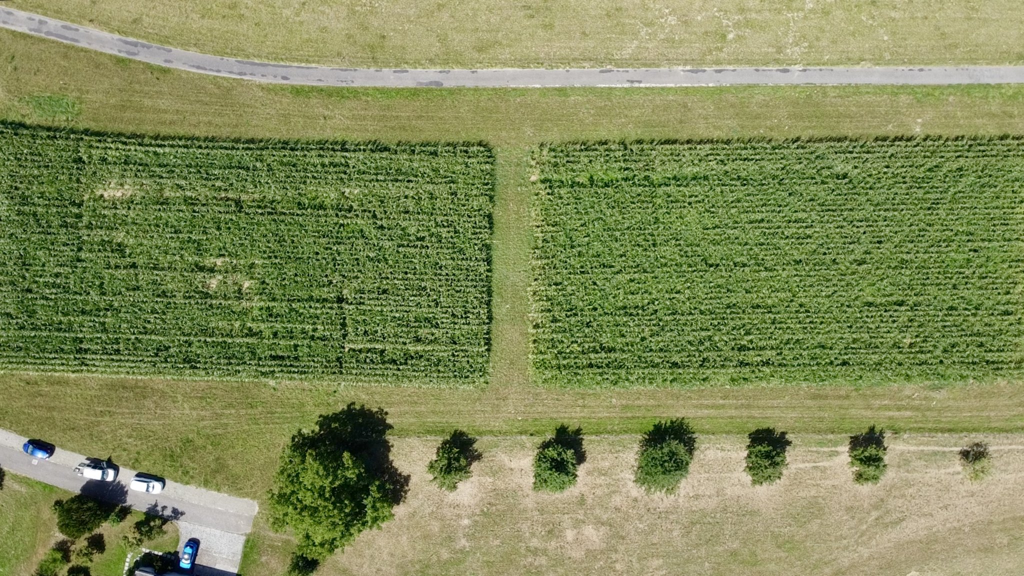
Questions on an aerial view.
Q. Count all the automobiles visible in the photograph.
4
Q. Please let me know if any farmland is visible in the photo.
Yes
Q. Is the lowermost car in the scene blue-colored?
Yes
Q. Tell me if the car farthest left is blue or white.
blue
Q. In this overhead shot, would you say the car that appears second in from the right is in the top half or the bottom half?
bottom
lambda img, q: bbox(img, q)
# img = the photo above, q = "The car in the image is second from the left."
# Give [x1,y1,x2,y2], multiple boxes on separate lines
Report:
[72,459,118,483]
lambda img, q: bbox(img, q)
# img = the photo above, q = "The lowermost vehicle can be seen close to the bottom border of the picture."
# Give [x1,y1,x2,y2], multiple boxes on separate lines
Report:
[179,539,199,571]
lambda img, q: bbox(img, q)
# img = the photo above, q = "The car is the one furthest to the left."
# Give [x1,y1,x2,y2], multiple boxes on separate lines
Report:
[23,439,56,460]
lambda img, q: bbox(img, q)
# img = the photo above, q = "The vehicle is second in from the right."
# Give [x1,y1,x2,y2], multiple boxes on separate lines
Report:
[129,475,164,495]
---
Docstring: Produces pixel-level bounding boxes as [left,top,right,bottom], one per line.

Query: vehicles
[179,539,199,571]
[129,475,164,495]
[72,459,118,483]
[23,439,56,460]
